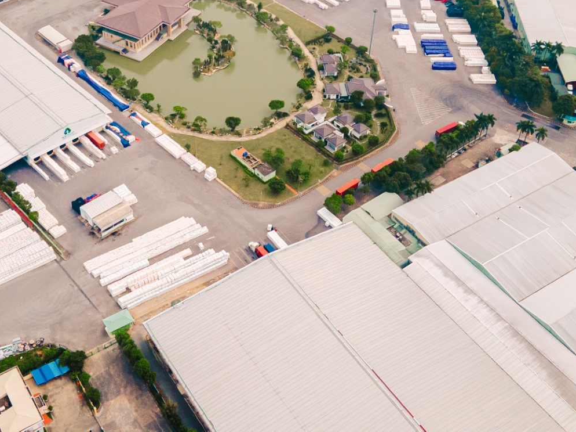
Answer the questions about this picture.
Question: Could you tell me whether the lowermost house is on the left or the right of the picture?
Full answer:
The lowermost house sits on the left side.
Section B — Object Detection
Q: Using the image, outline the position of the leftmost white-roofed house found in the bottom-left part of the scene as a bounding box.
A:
[0,368,43,432]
